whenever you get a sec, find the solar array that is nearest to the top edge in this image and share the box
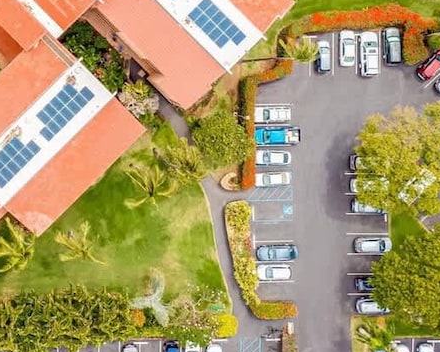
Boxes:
[182,0,246,47]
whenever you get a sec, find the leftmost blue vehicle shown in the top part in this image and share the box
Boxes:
[258,128,302,145]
